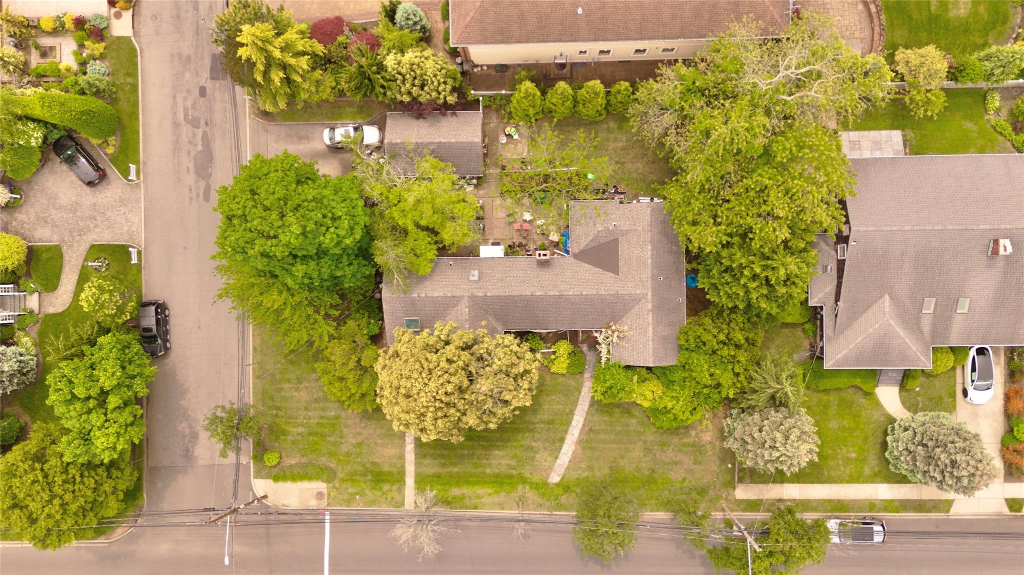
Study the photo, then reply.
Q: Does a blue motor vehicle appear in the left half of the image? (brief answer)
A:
No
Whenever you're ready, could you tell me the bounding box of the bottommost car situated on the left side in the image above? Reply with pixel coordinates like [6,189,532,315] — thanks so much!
[140,300,172,356]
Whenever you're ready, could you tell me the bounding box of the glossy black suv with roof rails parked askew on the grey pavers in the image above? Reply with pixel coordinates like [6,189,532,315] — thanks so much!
[53,134,106,191]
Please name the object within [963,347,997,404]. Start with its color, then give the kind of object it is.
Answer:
white car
